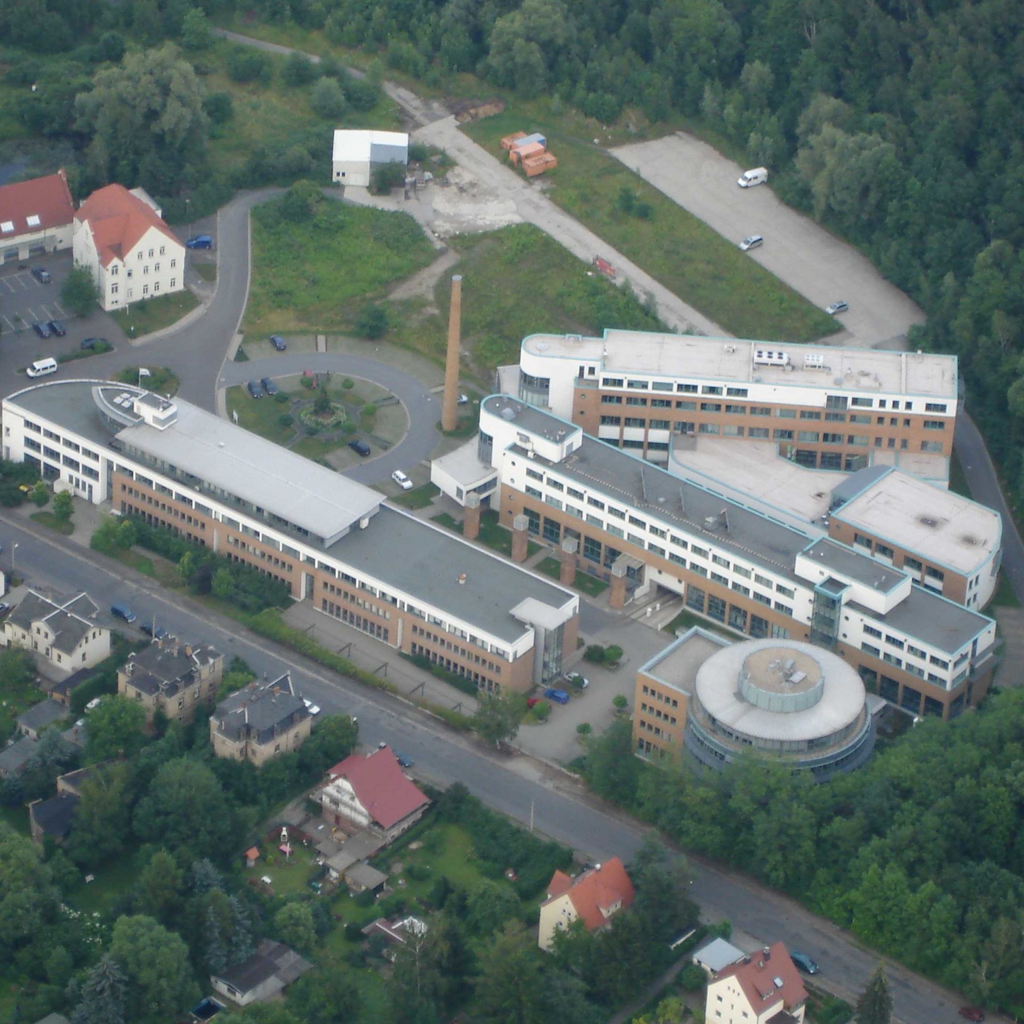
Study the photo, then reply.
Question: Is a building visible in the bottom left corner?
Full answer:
Yes, the scene does show a building in the bottom left corner.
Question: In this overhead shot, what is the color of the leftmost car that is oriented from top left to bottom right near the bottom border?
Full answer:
In this view, the leftmost car that is oriented from top left to bottom right near the bottom border is blue.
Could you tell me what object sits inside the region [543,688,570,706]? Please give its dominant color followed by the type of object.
blue car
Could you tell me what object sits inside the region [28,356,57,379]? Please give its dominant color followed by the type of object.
white vehicle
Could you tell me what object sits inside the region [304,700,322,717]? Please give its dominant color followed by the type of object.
white car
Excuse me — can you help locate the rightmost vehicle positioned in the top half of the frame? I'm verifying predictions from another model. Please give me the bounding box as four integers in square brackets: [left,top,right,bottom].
[826,302,848,317]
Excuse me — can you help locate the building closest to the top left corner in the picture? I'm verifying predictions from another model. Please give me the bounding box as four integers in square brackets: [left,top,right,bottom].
[0,167,82,266]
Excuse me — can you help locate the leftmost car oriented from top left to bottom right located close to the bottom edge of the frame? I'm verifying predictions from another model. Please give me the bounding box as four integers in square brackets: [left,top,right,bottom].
[791,953,818,974]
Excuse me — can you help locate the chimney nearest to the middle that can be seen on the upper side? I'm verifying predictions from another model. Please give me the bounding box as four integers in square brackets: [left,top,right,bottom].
[441,271,461,432]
